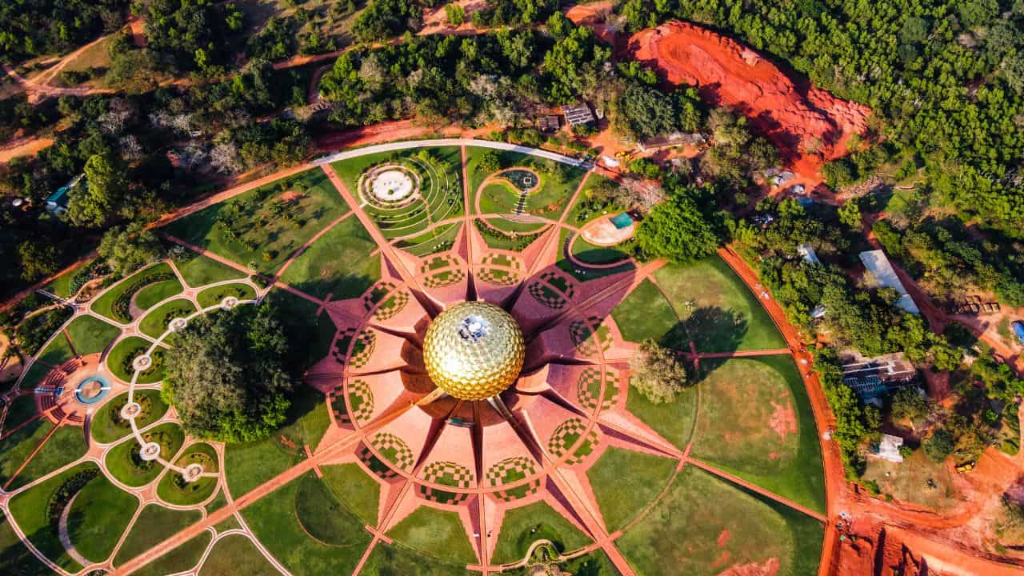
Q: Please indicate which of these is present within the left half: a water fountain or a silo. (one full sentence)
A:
There is a water fountain within the left half.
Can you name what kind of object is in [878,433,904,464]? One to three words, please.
house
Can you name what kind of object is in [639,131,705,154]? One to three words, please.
house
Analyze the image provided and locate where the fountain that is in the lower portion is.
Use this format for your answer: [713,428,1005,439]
[74,374,111,405]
